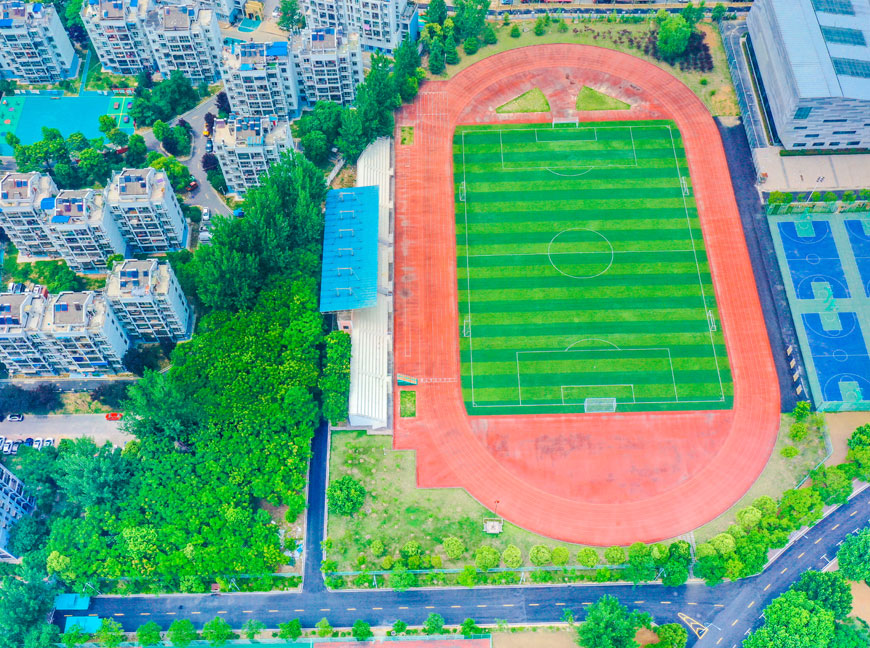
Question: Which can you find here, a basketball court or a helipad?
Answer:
basketball court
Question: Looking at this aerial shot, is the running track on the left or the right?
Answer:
right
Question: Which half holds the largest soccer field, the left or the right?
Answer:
right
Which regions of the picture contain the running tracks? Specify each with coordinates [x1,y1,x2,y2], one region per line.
[393,46,779,544]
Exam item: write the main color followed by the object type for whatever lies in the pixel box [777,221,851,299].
blue basketball court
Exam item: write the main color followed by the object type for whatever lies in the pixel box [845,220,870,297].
blue basketball court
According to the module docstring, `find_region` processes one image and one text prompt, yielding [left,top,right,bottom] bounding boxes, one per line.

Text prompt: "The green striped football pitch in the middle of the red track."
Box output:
[455,119,737,416]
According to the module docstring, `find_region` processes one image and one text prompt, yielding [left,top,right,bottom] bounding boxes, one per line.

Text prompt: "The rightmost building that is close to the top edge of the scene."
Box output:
[749,0,870,141]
